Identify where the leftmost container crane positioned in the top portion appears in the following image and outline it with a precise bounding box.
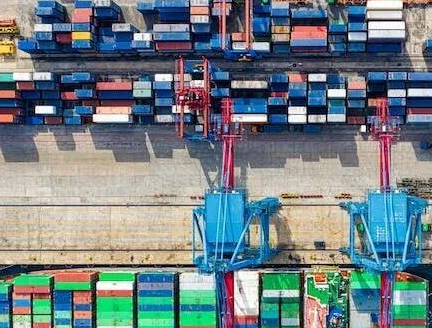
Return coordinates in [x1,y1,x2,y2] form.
[178,55,228,140]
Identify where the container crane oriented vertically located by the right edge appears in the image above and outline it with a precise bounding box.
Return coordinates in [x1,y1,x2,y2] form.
[336,99,428,328]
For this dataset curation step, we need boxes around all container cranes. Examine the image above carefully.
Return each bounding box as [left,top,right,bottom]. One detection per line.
[218,0,266,60]
[336,99,428,328]
[178,55,228,140]
[187,99,284,328]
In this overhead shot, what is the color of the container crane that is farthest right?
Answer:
blue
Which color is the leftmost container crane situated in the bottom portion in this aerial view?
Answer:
blue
